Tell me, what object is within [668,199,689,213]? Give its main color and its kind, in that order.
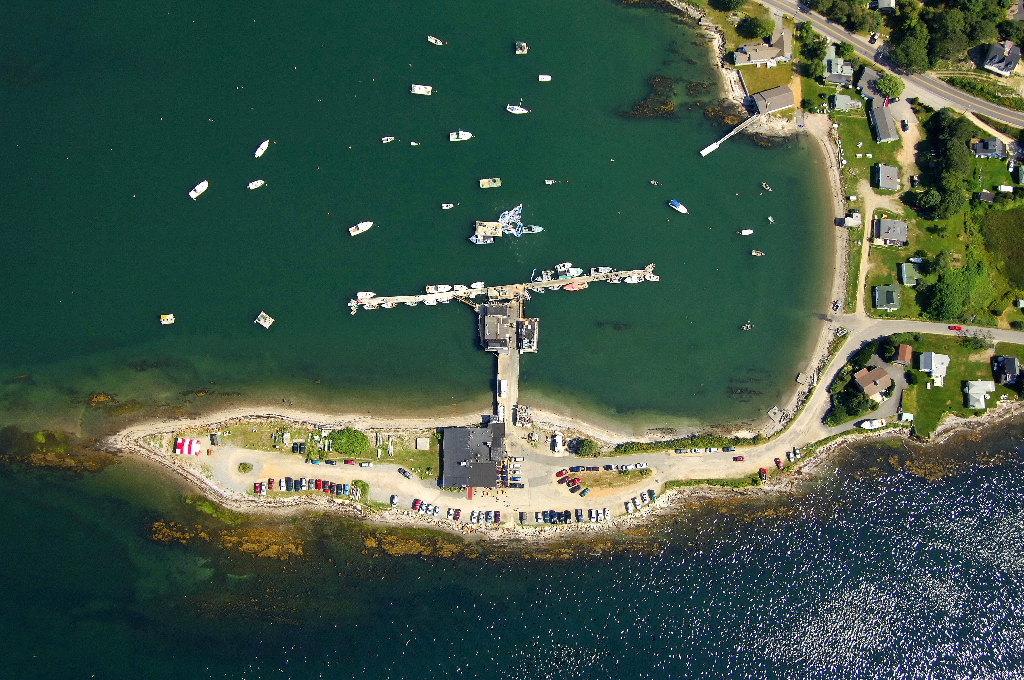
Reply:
white boat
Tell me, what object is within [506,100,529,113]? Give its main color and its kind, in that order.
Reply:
white boat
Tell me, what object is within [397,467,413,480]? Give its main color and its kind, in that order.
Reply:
gray vehicle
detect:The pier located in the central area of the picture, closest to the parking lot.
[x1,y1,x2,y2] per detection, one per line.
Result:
[497,354,520,436]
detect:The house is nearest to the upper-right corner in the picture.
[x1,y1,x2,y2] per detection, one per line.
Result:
[983,41,1019,77]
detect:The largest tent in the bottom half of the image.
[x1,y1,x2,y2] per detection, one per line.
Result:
[176,438,202,456]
